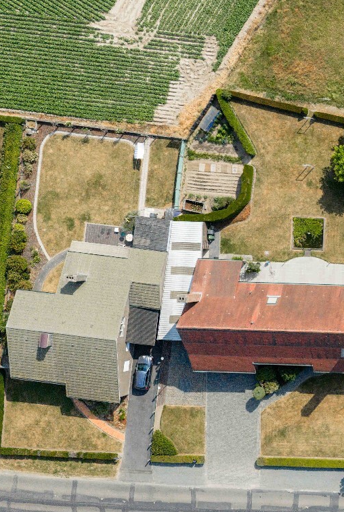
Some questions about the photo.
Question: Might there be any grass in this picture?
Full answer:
Yes, grass shows up in the scene.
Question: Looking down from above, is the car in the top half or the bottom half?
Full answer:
Seen from above, the car lies in the bottom half of the view.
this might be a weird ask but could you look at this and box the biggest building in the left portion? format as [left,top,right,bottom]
[5,240,167,405]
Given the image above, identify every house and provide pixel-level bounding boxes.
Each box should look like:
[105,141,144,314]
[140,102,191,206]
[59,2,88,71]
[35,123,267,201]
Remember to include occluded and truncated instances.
[175,258,344,375]
[5,240,167,405]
